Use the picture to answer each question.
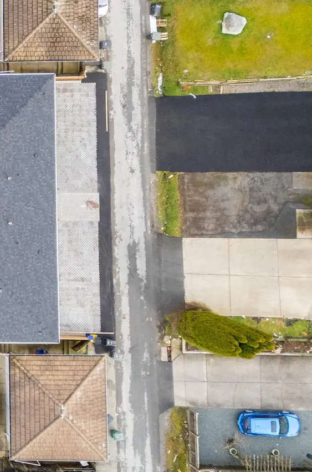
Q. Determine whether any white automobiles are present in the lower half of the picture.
No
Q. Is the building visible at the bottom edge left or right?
left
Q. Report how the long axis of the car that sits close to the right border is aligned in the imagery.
from left to right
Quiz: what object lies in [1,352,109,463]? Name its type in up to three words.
building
